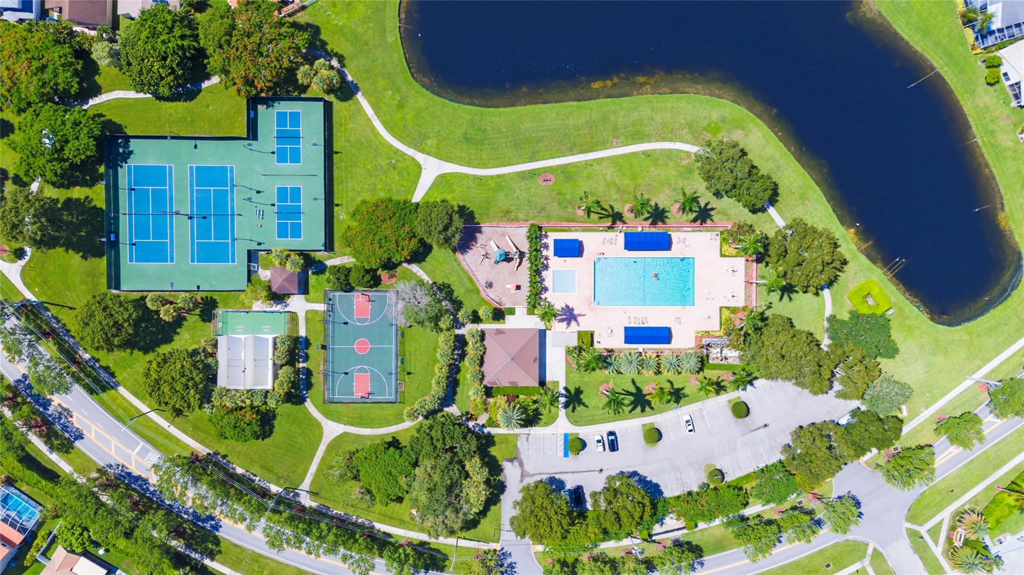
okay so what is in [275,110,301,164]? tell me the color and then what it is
blue sports court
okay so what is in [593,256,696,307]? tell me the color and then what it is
blue swimming pool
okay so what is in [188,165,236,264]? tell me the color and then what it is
blue tennis court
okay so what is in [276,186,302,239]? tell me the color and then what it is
blue sports court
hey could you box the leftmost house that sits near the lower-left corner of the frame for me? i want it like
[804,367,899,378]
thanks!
[0,515,30,565]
